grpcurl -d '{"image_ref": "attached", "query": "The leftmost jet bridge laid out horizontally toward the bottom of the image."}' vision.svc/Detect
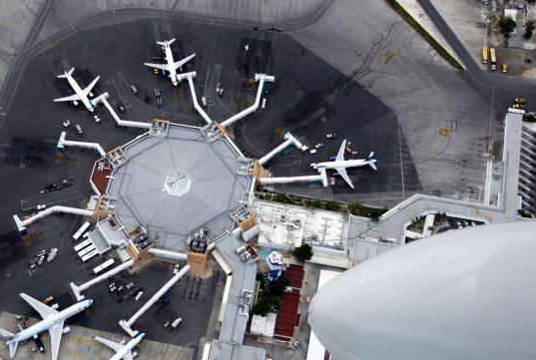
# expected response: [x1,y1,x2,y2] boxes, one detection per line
[13,205,93,235]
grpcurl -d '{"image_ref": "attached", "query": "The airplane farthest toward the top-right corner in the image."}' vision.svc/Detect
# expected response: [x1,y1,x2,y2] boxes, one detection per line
[313,139,377,187]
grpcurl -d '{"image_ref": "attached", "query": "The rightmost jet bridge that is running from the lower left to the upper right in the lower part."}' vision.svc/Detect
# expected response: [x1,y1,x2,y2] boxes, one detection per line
[118,266,191,339]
